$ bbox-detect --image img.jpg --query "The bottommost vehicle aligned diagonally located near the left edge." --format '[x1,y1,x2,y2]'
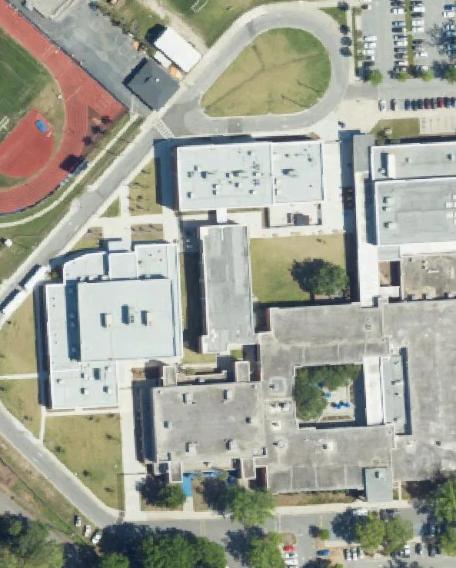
[0,289,26,316]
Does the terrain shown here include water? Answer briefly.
No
